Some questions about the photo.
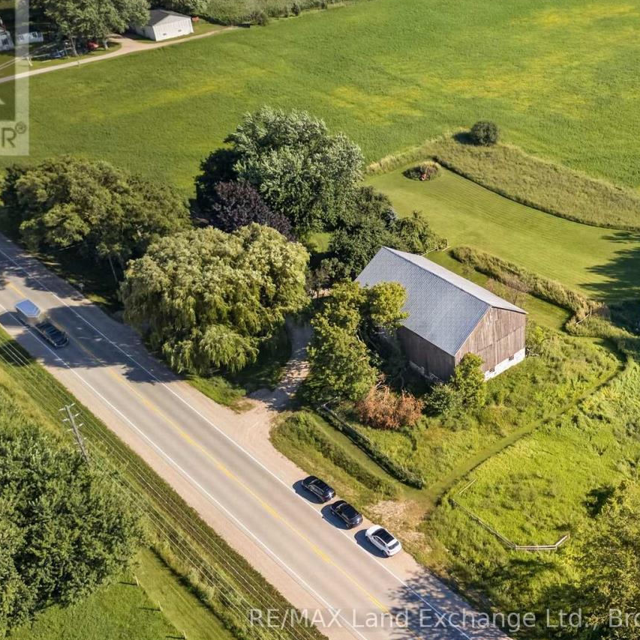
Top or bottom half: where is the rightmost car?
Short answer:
bottom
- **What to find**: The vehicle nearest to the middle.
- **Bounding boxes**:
[299,475,335,504]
